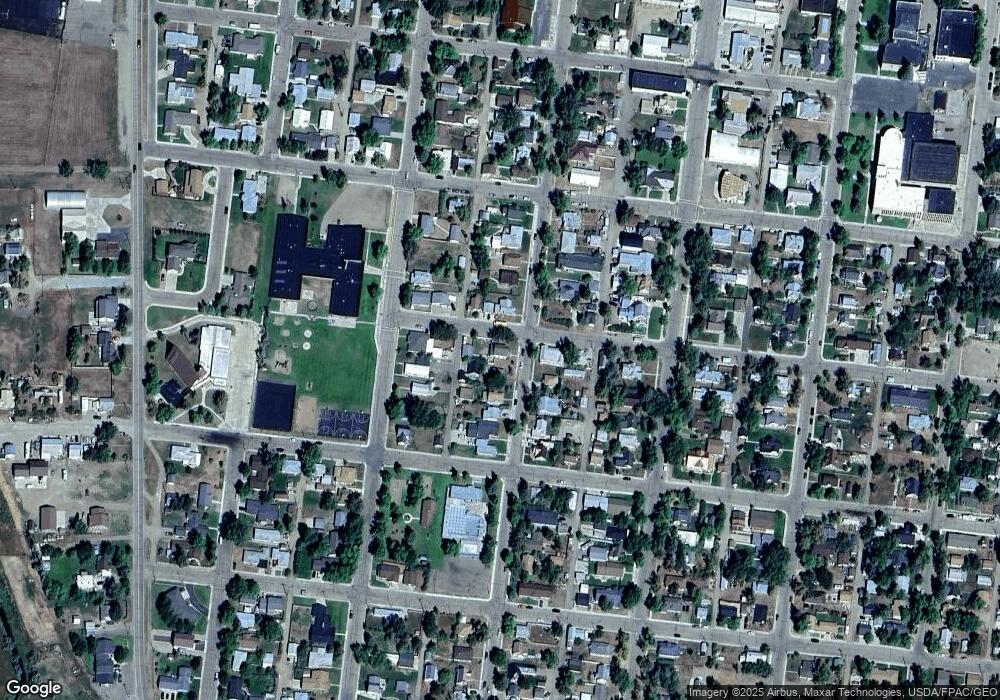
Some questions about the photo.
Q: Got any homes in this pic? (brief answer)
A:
Yes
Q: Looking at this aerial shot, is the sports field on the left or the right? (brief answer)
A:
left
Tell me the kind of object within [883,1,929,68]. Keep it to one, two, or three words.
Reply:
building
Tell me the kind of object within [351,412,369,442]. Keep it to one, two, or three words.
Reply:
basketball court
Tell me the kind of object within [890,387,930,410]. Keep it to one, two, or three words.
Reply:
house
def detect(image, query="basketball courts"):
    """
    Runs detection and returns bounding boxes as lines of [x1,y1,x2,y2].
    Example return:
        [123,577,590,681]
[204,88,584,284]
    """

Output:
[317,409,337,437]
[351,412,369,442]
[334,410,353,439]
